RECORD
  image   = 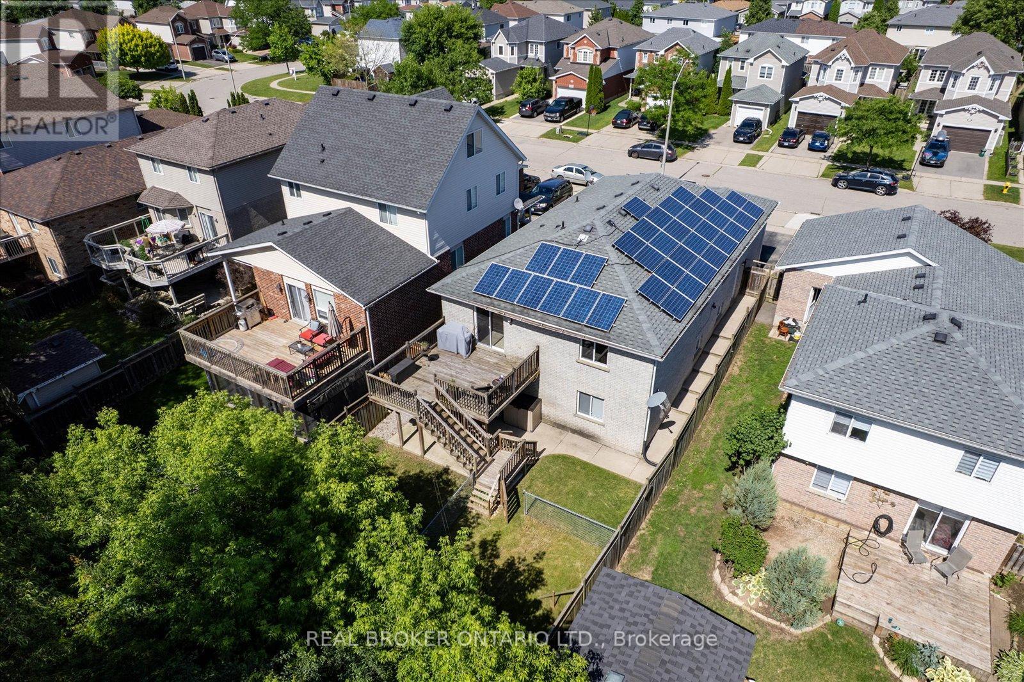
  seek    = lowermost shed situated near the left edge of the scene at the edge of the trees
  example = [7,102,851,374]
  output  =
[0,320,113,430]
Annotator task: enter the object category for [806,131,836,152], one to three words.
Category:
car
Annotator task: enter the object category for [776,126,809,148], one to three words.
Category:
car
